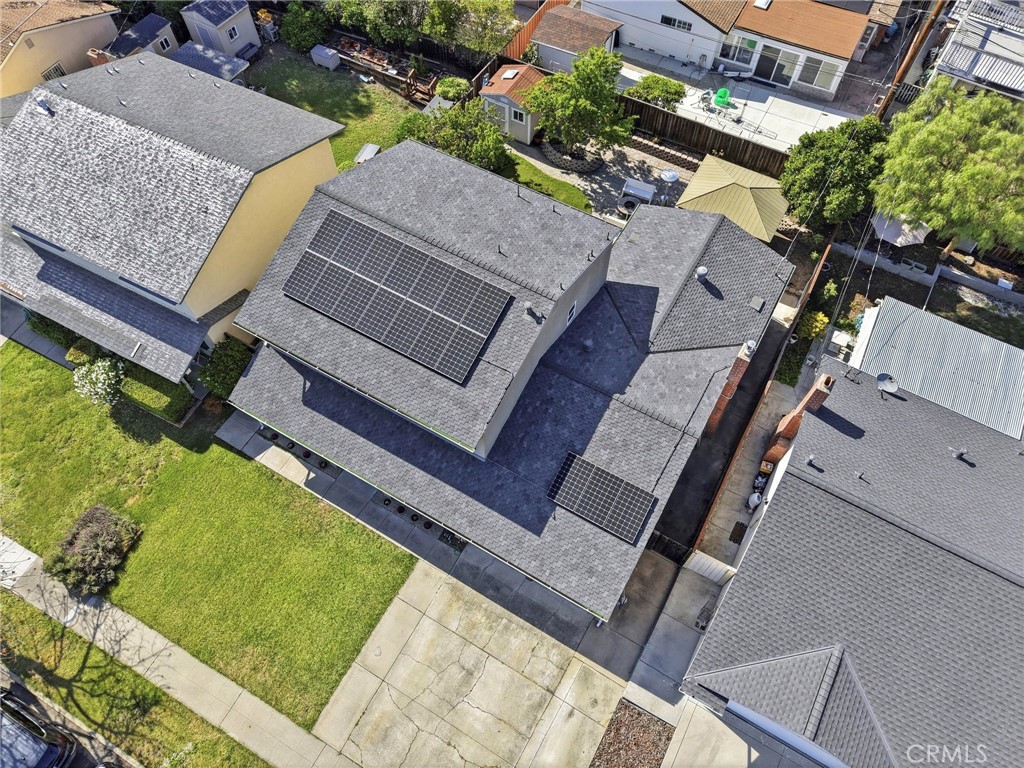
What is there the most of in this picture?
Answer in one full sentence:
The largest share of the image is taken up by buildings.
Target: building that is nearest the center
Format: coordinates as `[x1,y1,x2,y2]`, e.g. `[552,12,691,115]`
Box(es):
[225,139,798,625]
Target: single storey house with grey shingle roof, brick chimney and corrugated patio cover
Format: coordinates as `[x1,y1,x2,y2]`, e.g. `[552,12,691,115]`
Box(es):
[676,297,1024,768]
